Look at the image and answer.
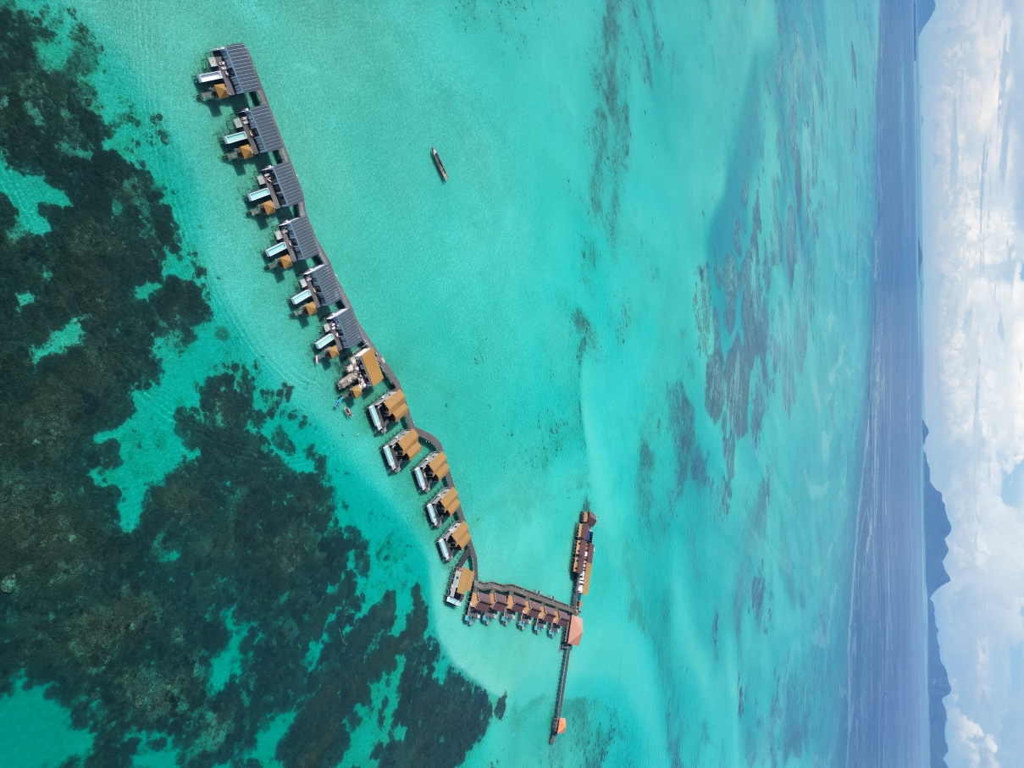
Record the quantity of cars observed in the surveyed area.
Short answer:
none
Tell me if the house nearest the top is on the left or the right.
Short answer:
left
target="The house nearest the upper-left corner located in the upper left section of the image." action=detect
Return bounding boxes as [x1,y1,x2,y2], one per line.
[207,44,259,96]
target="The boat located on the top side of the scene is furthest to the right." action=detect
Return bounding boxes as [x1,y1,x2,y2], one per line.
[432,146,449,181]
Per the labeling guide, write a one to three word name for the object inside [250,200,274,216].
gazebo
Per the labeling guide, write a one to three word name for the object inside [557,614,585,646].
building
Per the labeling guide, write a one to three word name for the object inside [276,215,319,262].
house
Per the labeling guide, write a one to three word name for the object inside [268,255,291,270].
gazebo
